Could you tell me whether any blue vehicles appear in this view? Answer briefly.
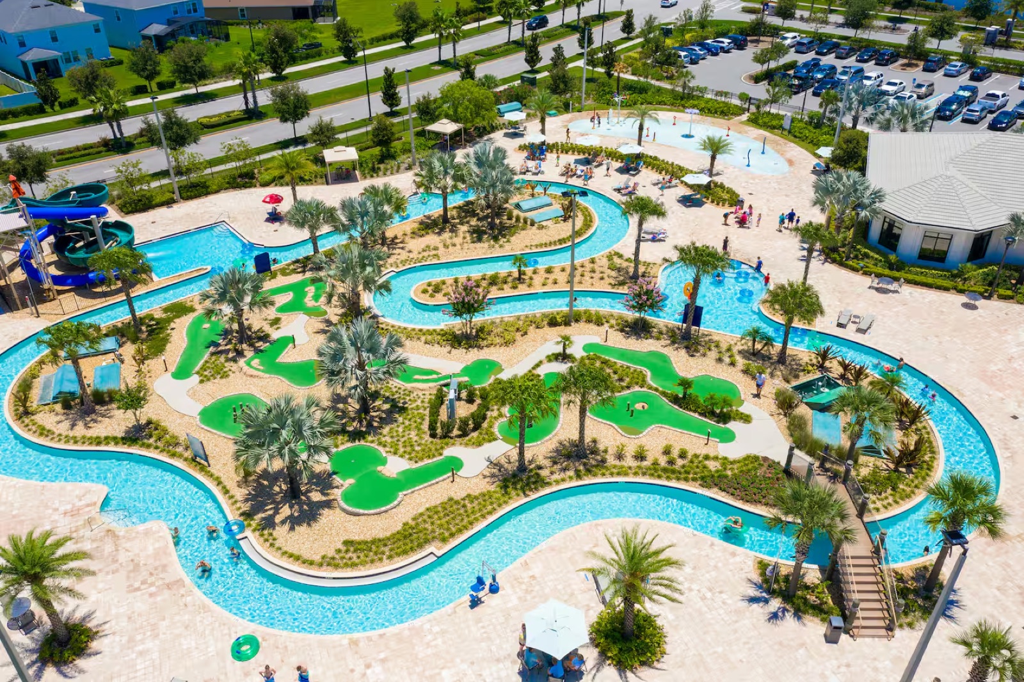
Yes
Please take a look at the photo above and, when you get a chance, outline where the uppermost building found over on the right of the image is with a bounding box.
[983,23,1006,44]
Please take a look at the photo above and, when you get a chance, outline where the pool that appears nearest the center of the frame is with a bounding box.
[0,181,1000,635]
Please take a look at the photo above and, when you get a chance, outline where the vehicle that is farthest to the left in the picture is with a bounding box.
[528,13,547,26]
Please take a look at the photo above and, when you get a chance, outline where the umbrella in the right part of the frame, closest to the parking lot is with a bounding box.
[817,150,843,171]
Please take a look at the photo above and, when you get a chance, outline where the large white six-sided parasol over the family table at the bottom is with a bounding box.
[523,605,590,663]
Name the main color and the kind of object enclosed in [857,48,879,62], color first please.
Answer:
blue car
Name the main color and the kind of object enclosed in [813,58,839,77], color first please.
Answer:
blue car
